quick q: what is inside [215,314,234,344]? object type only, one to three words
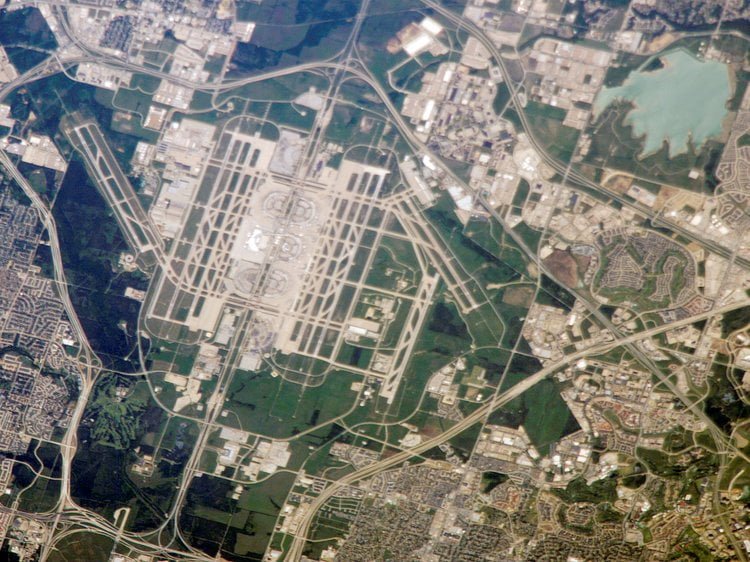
hangar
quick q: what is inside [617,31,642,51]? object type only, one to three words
building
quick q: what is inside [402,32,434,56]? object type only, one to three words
building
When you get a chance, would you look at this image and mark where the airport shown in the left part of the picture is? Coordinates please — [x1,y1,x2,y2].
[74,122,488,404]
